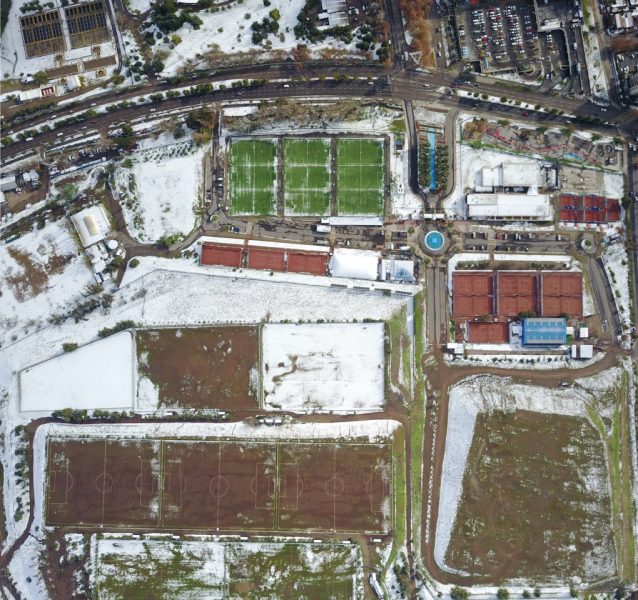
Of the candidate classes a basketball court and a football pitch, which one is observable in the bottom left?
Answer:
football pitch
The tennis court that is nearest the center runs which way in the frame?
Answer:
from left to right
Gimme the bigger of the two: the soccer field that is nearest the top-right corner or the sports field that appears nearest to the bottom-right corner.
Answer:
the sports field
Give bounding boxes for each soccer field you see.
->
[229,138,279,216]
[264,323,384,412]
[283,139,331,216]
[336,139,386,216]
[275,441,394,533]
[160,439,276,531]
[227,543,363,600]
[136,325,259,411]
[45,439,161,528]
[92,541,226,600]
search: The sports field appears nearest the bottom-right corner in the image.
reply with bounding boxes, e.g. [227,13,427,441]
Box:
[445,409,616,584]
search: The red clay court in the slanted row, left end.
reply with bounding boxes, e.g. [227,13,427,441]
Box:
[200,245,242,267]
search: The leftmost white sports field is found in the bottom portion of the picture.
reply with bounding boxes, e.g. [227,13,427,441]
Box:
[19,333,133,411]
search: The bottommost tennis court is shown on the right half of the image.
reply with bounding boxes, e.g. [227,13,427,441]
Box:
[468,321,508,343]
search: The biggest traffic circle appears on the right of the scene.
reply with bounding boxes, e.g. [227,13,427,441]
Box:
[400,219,452,266]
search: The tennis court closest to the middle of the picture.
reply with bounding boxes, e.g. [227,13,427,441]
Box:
[288,253,328,276]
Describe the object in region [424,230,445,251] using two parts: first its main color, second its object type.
blue fountain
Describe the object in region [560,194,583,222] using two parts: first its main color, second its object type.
red tennis court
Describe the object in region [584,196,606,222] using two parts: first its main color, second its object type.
red tennis court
